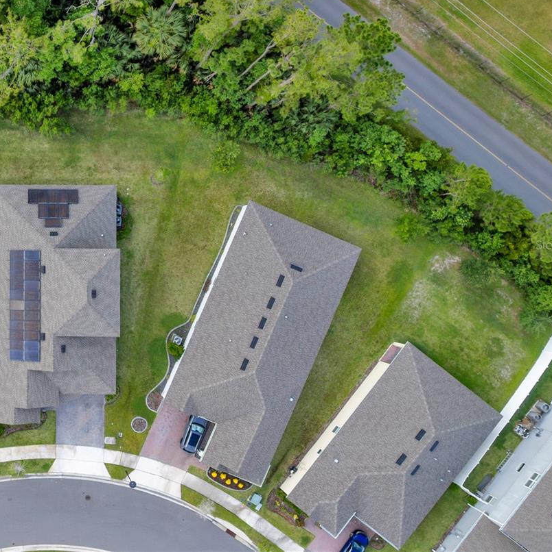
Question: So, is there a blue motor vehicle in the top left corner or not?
No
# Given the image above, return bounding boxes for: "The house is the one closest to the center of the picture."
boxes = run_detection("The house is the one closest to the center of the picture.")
[163,200,361,488]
